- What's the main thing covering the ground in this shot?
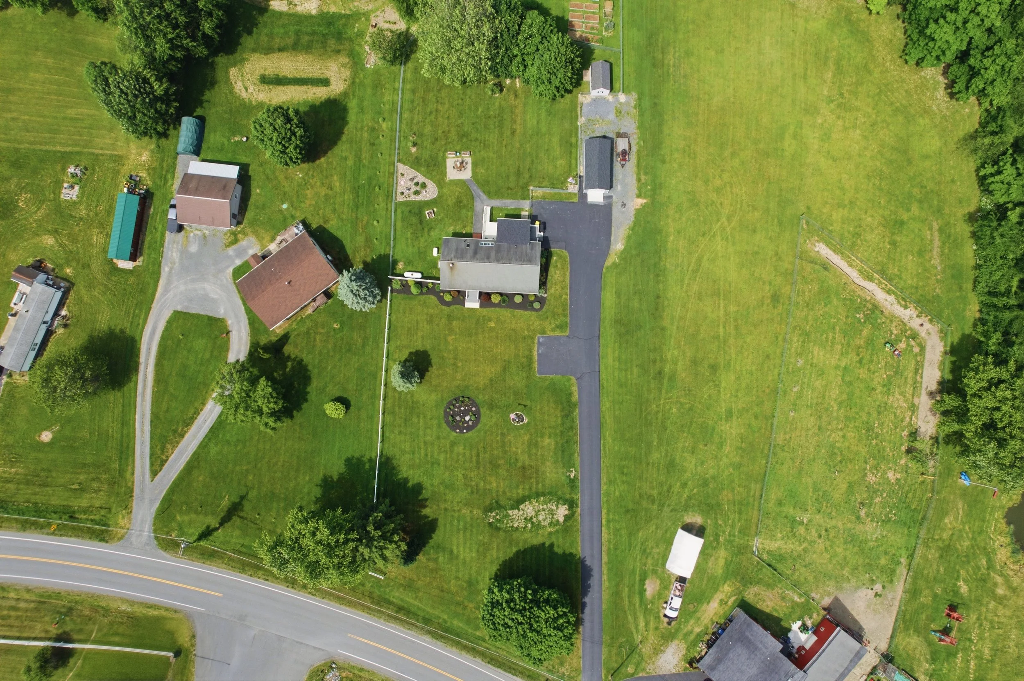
grass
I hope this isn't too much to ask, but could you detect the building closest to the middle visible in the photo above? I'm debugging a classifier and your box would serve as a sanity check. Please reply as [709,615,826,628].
[435,205,543,308]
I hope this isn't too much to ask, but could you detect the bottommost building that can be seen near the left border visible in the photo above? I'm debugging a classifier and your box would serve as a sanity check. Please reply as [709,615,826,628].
[0,281,66,373]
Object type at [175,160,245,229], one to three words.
building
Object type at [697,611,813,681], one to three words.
barn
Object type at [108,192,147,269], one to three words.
shed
